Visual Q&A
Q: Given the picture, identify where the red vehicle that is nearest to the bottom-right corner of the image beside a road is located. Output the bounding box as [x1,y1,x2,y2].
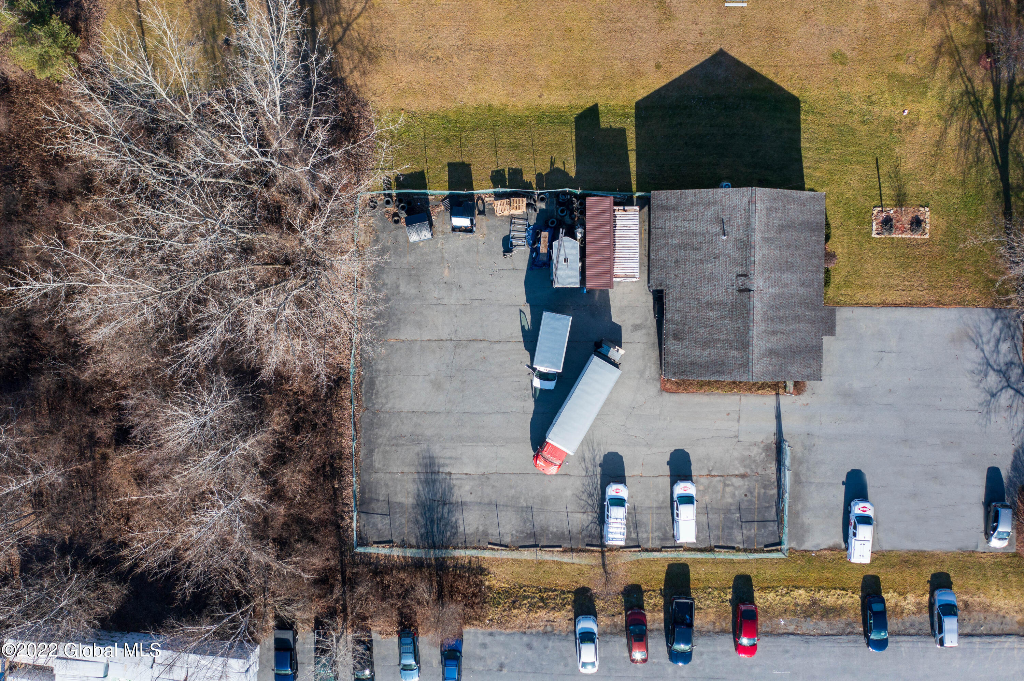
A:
[733,600,761,657]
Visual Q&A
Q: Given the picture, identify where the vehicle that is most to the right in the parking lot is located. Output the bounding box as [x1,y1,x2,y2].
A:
[982,499,1015,549]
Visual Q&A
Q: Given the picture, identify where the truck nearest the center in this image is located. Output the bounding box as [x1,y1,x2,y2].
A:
[525,311,572,393]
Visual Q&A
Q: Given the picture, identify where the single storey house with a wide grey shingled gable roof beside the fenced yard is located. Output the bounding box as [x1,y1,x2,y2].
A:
[648,186,835,382]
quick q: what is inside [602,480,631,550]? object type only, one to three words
truck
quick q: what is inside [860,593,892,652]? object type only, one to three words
car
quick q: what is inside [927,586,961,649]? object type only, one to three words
car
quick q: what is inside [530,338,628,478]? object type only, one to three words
truck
